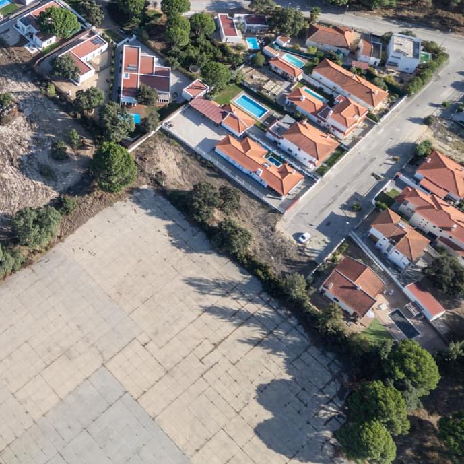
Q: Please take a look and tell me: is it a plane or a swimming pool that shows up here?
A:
swimming pool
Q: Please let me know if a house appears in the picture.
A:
Yes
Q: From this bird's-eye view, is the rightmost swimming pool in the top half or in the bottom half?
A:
bottom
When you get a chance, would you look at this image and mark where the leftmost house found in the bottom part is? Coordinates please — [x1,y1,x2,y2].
[319,257,385,320]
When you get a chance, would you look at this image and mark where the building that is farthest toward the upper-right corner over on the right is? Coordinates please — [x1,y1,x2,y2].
[383,33,420,75]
